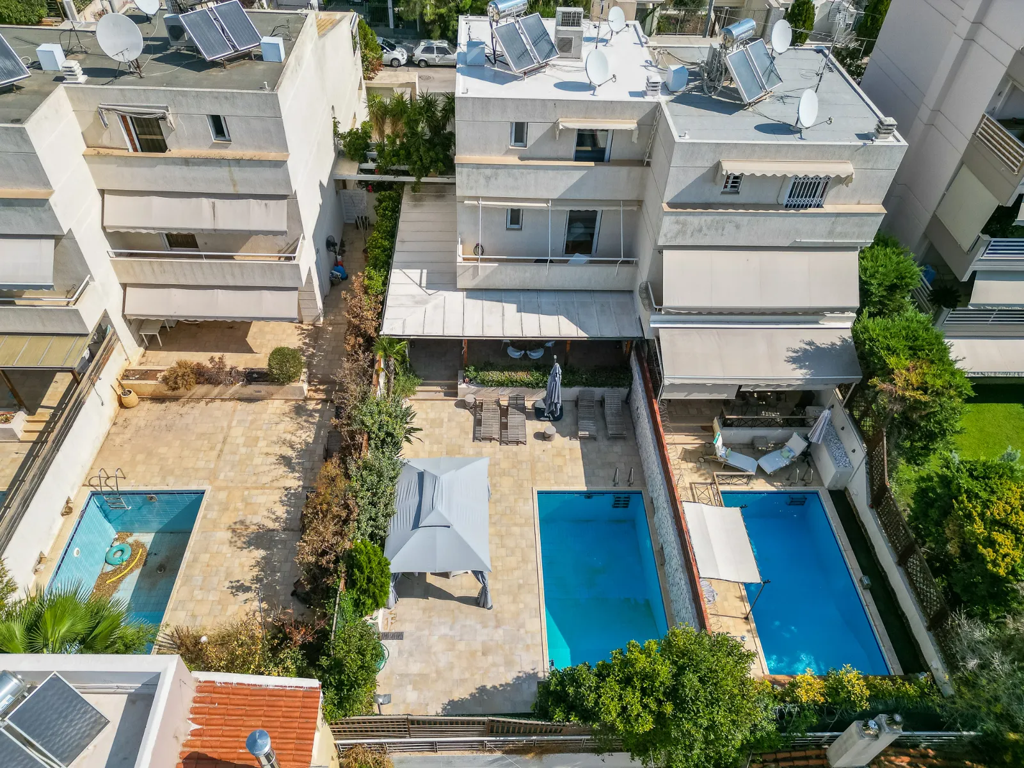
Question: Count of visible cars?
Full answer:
The photo contains 2 cars.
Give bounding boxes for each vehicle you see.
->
[374,34,406,66]
[412,37,458,67]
